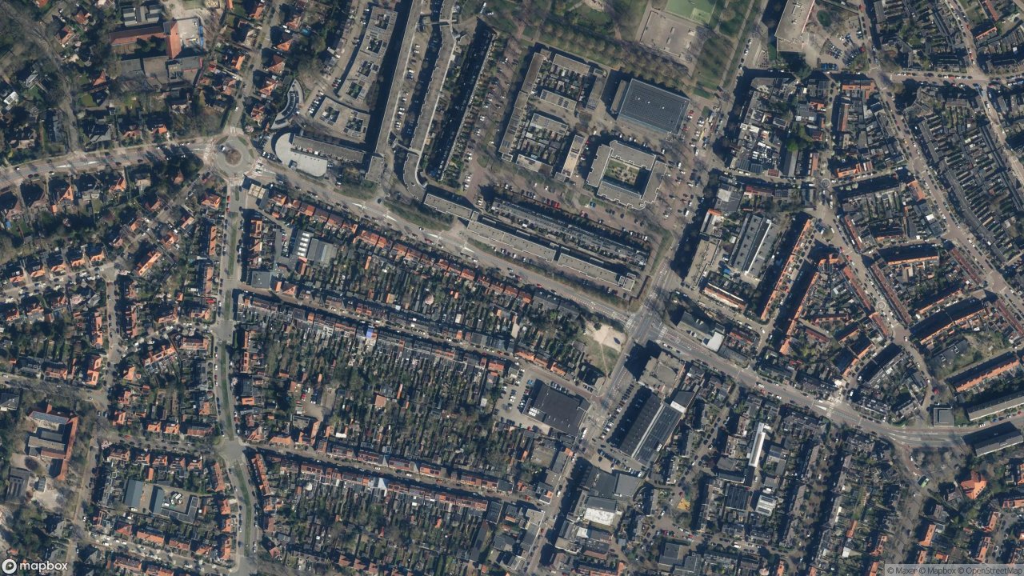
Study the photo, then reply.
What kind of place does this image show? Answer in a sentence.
The picture captures a residential area.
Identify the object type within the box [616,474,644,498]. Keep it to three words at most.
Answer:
building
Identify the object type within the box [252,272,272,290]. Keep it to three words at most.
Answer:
building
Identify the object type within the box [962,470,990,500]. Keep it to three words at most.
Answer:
house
